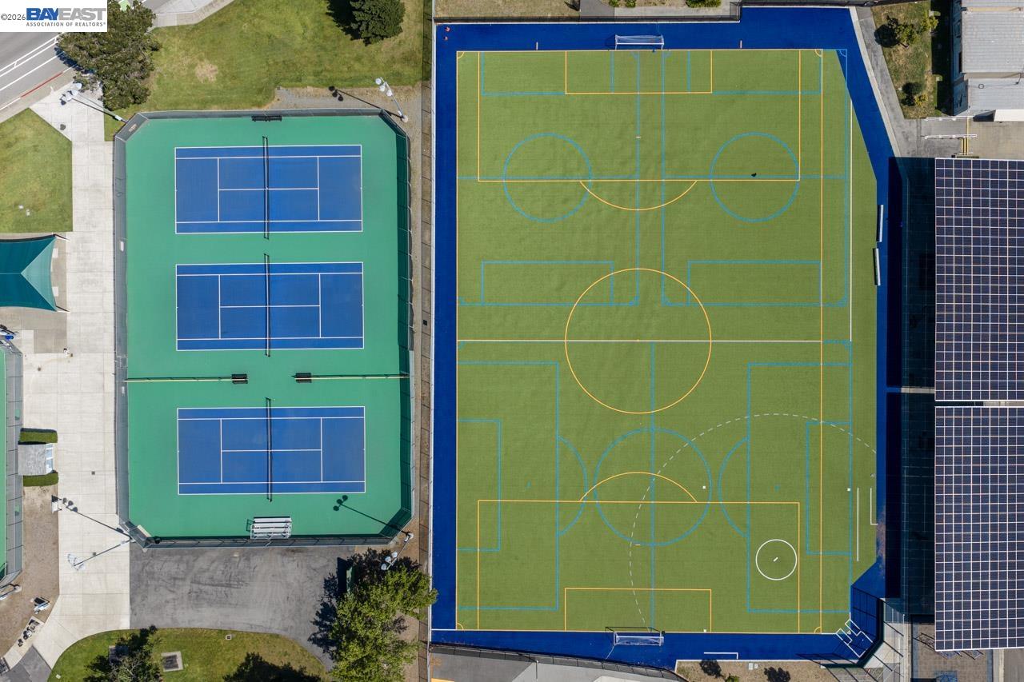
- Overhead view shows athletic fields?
Yes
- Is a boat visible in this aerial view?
No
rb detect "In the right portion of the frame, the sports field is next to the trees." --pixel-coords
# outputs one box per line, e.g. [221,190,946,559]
[433,7,901,671]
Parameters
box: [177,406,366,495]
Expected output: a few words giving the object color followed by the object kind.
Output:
blue tennis court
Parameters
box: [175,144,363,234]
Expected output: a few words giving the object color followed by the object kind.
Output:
blue tennis court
